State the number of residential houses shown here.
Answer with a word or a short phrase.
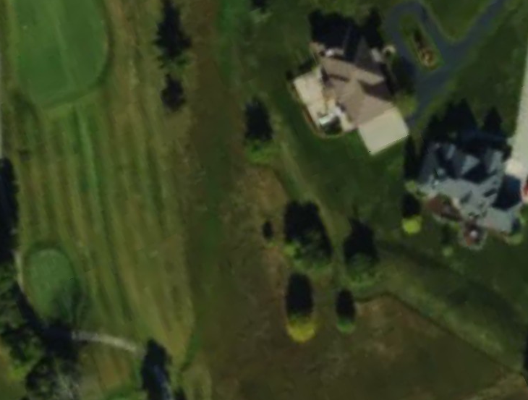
2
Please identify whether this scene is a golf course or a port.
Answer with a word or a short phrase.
golf course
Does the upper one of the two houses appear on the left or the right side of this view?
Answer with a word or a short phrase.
right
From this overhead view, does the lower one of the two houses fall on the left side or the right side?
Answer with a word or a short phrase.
right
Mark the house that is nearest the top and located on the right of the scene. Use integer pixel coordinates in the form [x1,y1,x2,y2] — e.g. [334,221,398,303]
[312,31,396,128]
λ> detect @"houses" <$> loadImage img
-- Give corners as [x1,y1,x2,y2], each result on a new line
[312,31,396,128]
[417,139,526,226]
